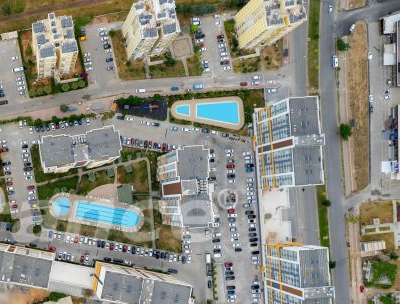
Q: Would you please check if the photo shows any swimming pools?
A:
Yes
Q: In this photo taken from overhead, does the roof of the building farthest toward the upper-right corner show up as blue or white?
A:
white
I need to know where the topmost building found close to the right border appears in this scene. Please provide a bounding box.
[377,13,400,38]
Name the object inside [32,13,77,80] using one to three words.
building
